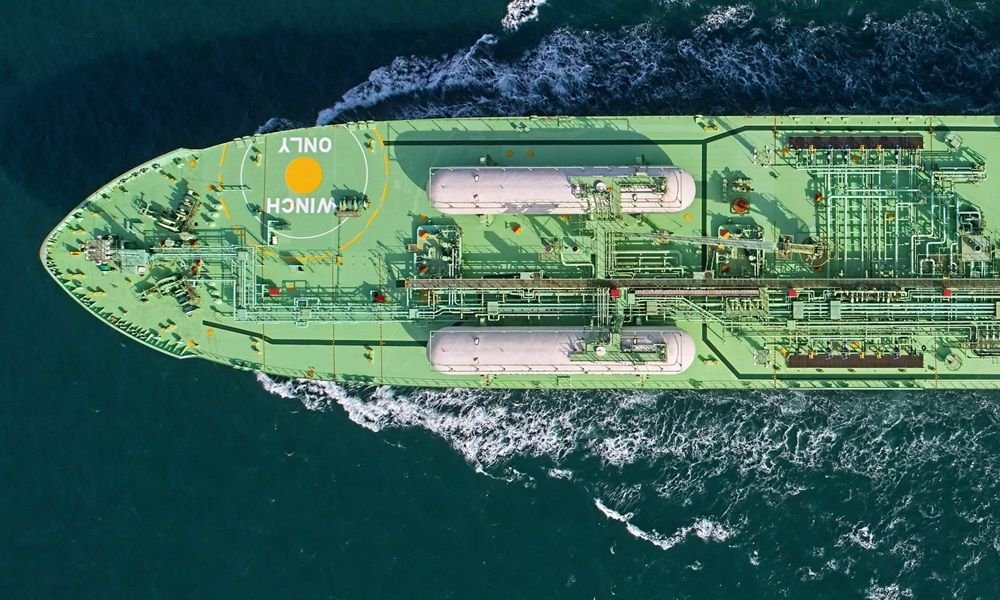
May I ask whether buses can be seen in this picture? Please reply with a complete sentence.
No, the frame has no bus in it.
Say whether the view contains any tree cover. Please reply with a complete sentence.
No, there's no tree cover in this view.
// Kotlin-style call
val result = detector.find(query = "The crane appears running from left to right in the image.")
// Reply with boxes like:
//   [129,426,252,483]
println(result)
[653,233,832,272]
